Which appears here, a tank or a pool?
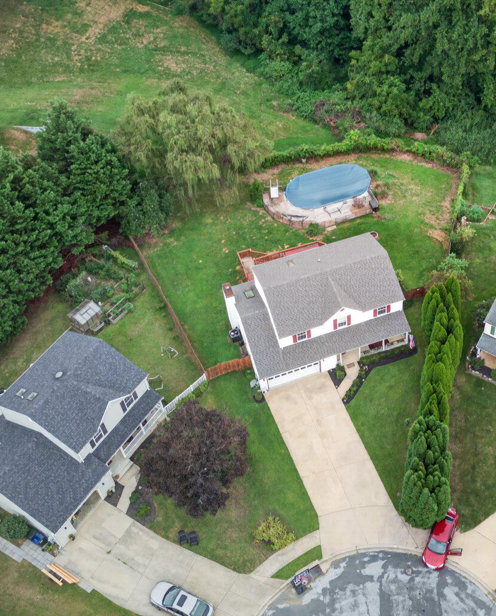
pool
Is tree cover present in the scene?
Yes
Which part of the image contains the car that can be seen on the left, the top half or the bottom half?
bottom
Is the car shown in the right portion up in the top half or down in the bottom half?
bottom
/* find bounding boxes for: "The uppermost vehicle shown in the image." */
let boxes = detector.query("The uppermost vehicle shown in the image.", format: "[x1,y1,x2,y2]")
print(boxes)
[425,505,467,574]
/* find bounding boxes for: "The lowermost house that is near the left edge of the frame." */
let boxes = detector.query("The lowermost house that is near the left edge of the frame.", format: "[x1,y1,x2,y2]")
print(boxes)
[0,329,167,546]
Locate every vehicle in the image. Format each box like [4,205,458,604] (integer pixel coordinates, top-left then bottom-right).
[148,583,216,616]
[425,505,467,574]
